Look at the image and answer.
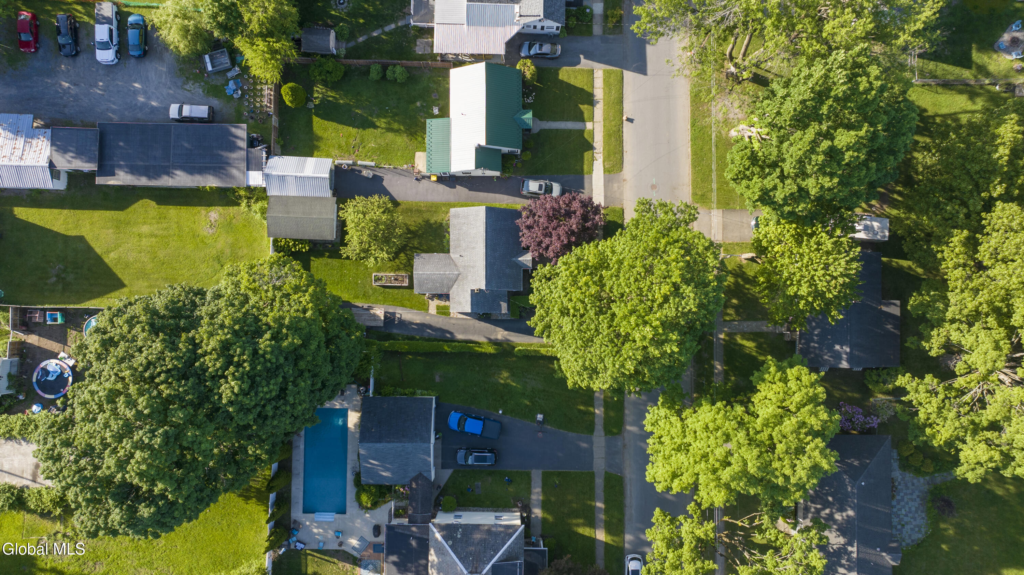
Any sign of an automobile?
Yes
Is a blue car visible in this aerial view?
Yes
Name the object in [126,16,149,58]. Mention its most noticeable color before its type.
blue car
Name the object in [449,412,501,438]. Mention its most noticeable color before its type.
blue truck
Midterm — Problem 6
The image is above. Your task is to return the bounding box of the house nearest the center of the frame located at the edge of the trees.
[412,206,532,313]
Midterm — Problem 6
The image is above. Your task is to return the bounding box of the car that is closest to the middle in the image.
[520,178,562,198]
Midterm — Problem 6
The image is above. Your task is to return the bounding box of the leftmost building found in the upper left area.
[0,114,67,190]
